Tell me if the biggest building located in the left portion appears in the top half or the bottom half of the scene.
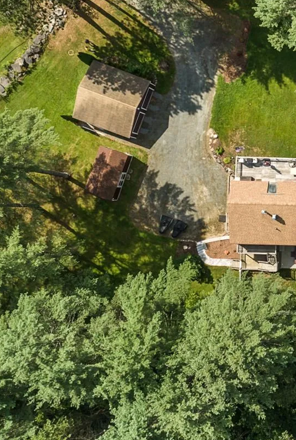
top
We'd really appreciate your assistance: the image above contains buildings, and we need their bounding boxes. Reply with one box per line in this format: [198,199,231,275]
[73,61,155,138]
[84,145,133,199]
[226,156,296,274]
